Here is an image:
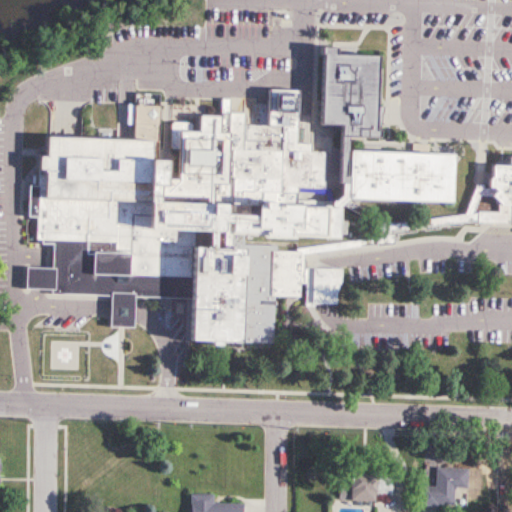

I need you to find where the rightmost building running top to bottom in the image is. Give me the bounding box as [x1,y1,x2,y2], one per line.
[476,157,512,226]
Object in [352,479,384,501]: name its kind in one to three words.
house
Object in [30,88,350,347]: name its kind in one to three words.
building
